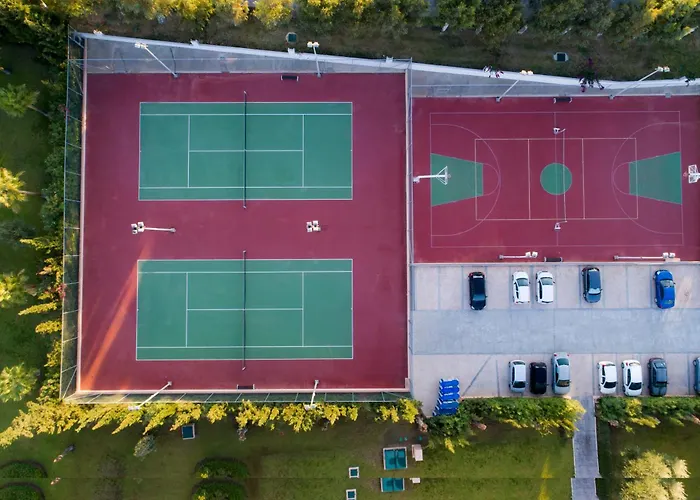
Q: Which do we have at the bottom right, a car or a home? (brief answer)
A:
car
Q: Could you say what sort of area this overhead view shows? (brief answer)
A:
sports ground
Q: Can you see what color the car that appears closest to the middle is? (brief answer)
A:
black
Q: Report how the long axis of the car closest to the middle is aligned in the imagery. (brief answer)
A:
from top to bottom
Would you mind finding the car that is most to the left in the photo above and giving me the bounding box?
[468,272,487,310]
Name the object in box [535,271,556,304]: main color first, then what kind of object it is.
white car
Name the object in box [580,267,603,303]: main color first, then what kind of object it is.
blue car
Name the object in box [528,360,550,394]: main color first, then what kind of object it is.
black car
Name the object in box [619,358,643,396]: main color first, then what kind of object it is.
white car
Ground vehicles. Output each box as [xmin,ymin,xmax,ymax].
[508,359,528,393]
[645,357,669,395]
[595,360,617,393]
[550,351,572,394]
[511,272,530,304]
[580,267,603,303]
[619,358,643,396]
[690,356,700,393]
[535,271,556,304]
[528,360,550,394]
[651,270,675,310]
[468,272,487,310]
